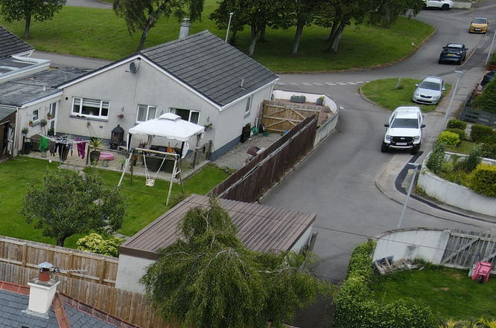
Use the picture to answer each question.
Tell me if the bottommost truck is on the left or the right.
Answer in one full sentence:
It is on the right.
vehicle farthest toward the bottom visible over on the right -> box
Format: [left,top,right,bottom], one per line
[384,107,433,149]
